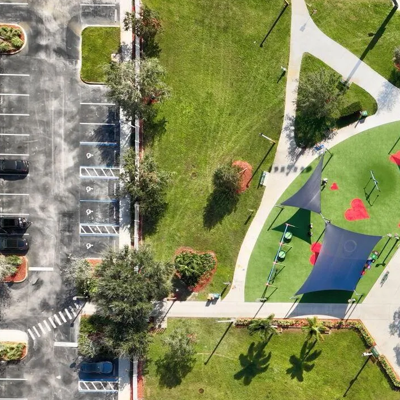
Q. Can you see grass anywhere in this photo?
Yes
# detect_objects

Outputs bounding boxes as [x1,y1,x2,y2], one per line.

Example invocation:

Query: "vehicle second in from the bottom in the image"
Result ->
[0,237,29,251]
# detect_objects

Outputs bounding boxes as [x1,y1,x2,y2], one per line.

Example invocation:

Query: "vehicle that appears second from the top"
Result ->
[0,216,29,229]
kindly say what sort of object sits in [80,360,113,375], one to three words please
car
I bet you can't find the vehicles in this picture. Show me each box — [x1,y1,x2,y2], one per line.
[0,237,29,251]
[0,158,32,173]
[80,360,113,375]
[0,216,29,229]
